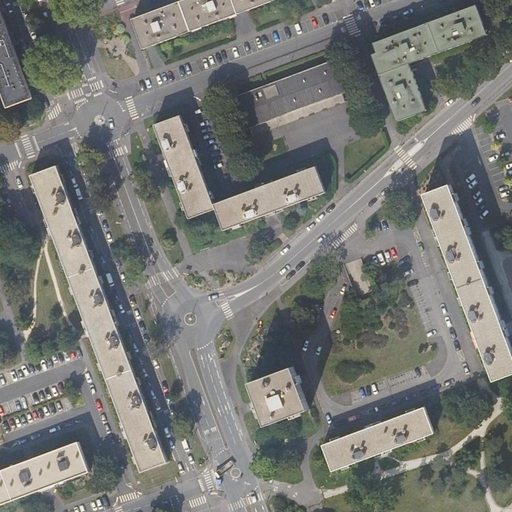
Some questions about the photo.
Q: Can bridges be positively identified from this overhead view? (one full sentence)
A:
No, no bridge is visible in the scene.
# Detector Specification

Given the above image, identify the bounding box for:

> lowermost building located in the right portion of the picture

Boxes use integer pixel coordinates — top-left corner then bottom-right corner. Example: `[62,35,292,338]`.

[320,406,434,472]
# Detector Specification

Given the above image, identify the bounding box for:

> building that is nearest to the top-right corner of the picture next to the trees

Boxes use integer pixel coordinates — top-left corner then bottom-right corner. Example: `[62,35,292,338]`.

[370,6,486,121]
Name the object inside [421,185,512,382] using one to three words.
building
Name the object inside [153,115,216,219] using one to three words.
building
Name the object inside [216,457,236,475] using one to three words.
vehicle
